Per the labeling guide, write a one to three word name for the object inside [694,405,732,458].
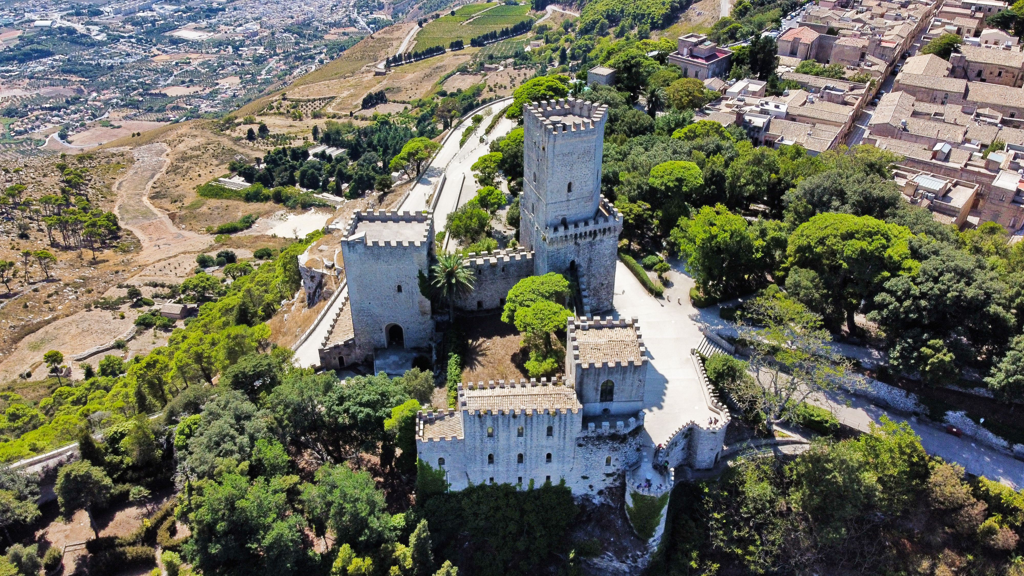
building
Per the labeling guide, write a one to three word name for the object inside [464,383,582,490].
house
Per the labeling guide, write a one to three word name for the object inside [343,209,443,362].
building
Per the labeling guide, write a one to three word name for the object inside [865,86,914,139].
house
